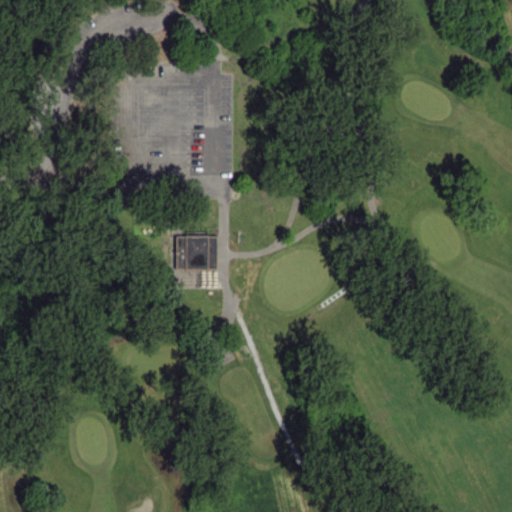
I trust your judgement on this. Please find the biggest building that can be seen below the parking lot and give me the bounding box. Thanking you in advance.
[176,236,218,270]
